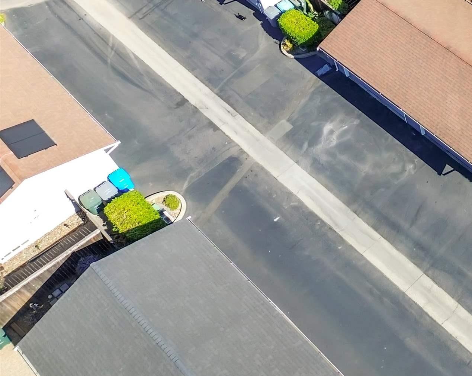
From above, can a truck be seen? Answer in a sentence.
No, I can see no truck in this picture.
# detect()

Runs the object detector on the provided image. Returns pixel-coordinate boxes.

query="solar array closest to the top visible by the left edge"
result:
[0,114,55,155]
